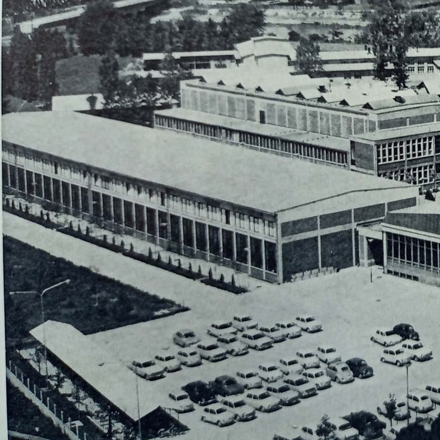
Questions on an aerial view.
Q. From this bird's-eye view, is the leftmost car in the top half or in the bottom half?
bottom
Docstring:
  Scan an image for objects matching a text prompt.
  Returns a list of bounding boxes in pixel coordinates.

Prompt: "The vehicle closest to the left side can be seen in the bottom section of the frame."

[129,358,164,381]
